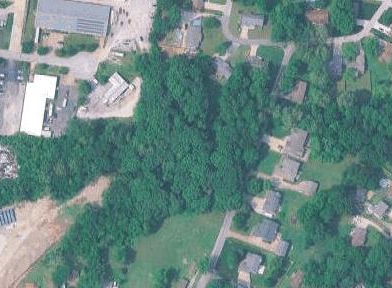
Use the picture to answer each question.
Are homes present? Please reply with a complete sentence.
Yes, you can see a home in this photo.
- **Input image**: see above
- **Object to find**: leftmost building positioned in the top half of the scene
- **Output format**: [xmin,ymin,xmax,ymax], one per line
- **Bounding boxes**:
[20,74,57,135]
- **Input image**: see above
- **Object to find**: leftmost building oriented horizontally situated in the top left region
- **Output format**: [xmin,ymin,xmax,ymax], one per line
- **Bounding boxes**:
[33,0,111,35]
